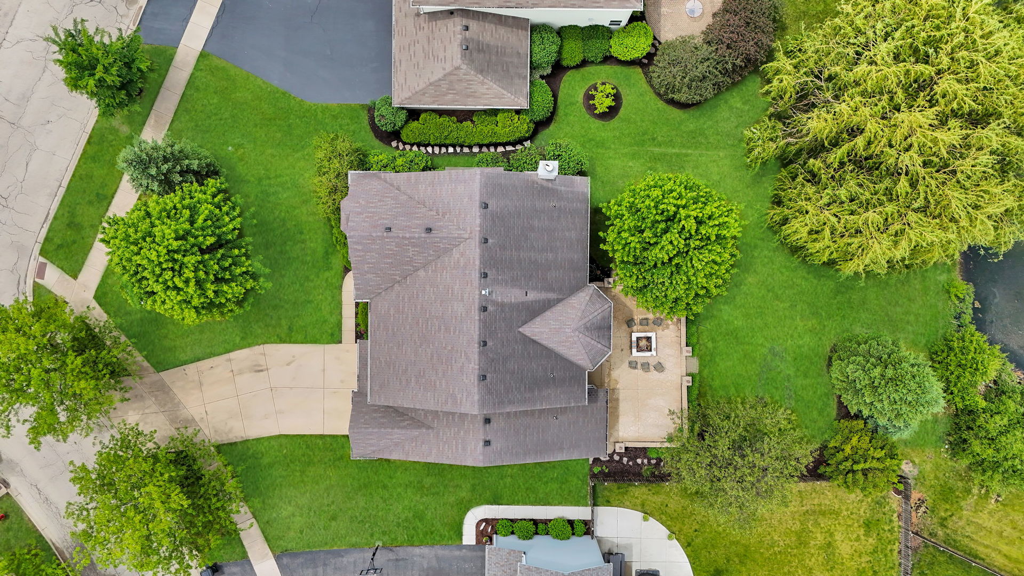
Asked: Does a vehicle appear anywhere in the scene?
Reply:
No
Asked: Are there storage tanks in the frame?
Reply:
No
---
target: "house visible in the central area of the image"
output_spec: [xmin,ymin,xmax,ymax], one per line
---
[341,161,614,467]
